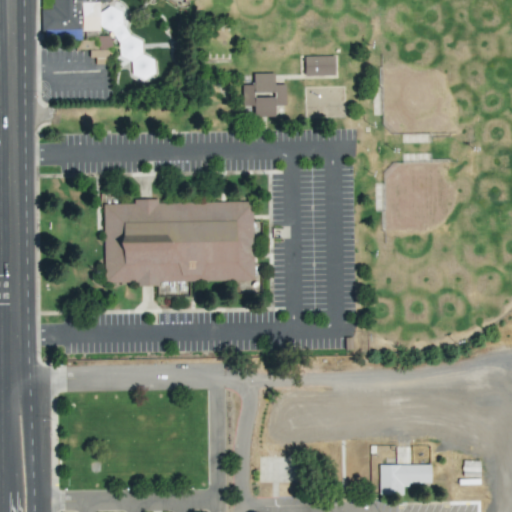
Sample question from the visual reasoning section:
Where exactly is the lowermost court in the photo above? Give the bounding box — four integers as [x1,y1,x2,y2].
[305,86,346,118]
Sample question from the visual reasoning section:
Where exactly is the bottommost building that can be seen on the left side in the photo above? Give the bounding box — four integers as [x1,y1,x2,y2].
[104,198,256,286]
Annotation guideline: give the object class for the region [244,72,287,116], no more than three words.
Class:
building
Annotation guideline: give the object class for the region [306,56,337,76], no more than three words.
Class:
building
